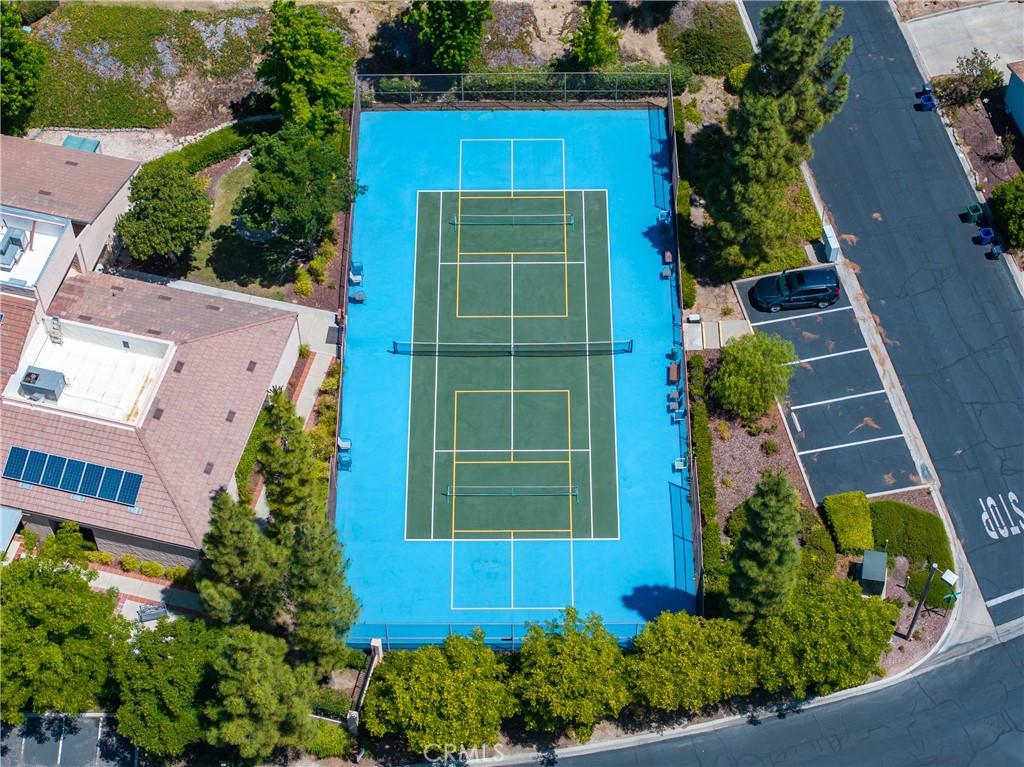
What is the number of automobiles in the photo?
one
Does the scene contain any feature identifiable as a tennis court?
Yes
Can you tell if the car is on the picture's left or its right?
right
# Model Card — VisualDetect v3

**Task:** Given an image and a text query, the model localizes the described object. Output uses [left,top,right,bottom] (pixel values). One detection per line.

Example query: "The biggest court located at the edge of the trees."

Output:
[329,109,697,651]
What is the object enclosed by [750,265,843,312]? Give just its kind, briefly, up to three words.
car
